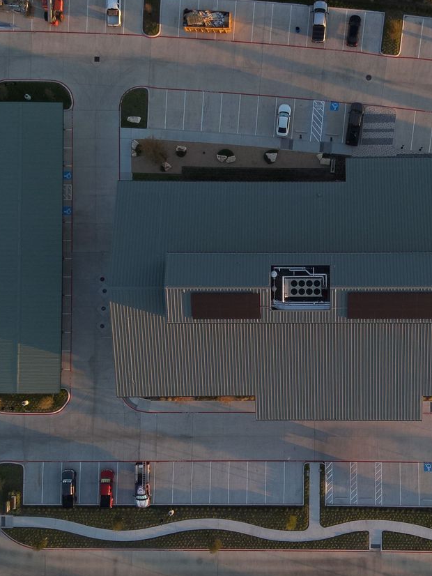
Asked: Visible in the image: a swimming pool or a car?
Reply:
car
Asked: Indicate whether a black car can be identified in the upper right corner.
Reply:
Yes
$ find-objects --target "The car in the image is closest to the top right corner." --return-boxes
[346,12,363,46]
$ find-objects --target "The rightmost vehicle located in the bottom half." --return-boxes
[131,464,150,509]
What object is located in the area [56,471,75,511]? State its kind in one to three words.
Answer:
vehicle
